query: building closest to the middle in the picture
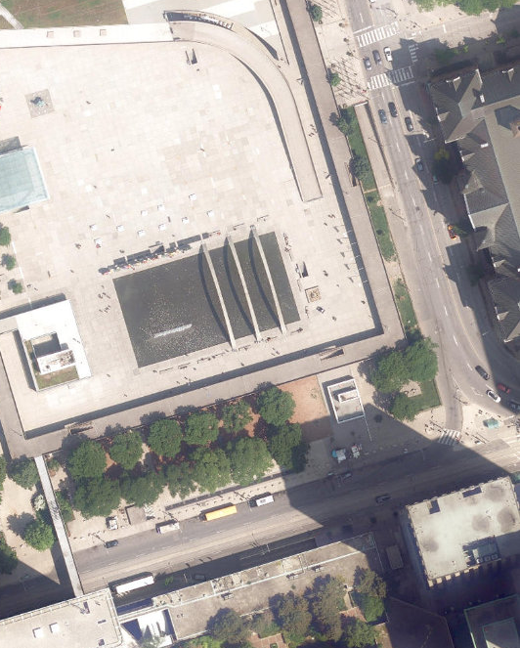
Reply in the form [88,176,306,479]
[325,377,373,440]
